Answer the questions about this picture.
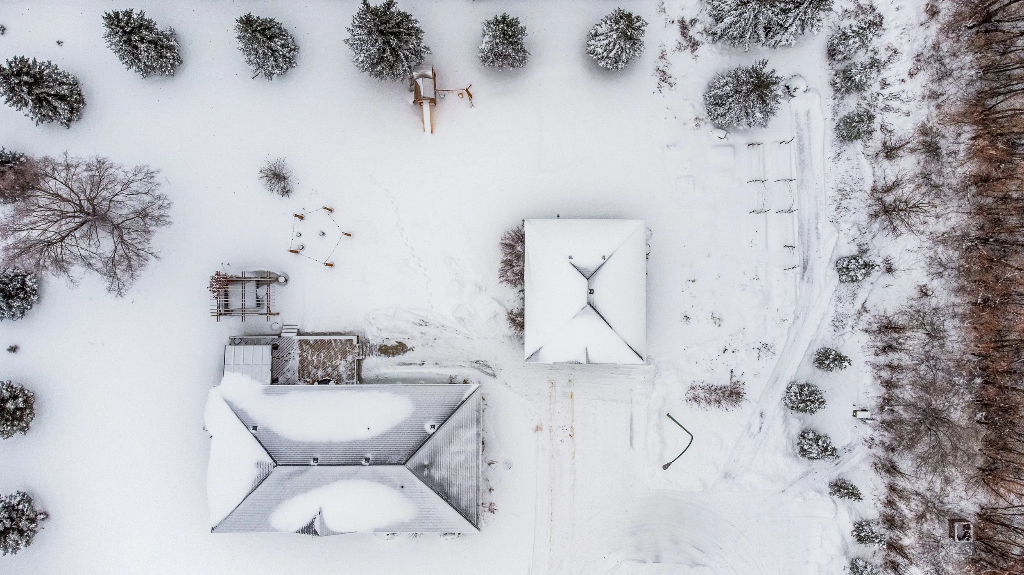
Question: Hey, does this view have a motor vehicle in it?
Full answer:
No, the photo shows no motor vehicle.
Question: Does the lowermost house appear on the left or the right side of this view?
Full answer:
You can find the lowermost house on the left side of the picture.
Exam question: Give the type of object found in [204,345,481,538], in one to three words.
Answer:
house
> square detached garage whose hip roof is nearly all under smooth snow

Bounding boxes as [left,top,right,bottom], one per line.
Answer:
[523,214,647,366]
